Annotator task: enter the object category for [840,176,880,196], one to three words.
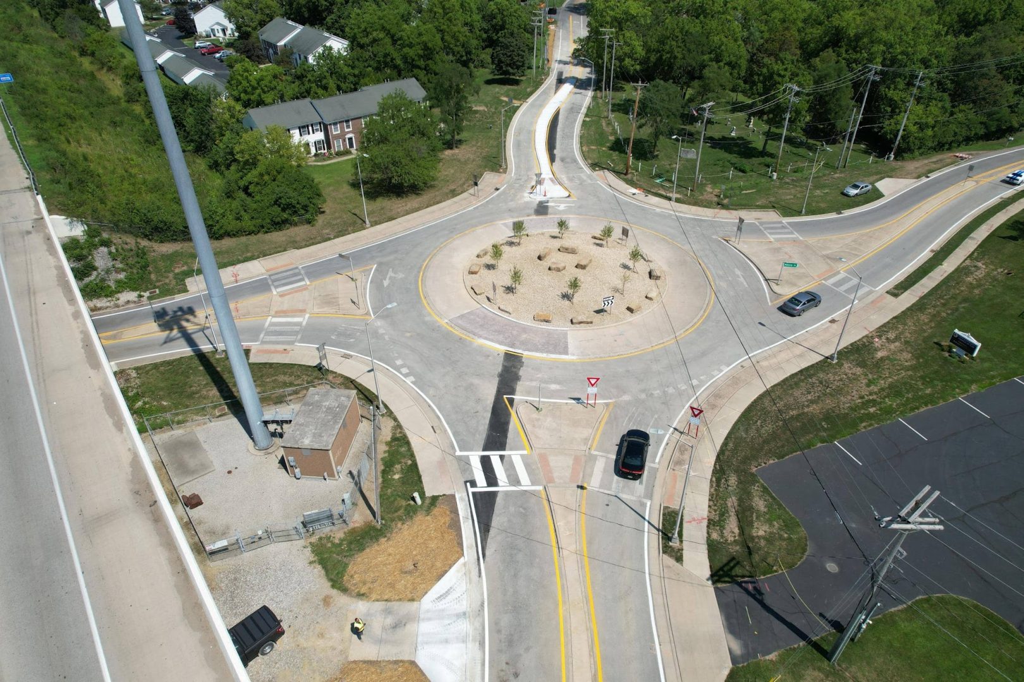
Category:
car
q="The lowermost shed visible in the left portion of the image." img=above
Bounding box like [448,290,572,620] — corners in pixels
[278,392,356,480]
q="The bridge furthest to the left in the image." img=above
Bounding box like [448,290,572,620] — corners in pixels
[0,195,252,682]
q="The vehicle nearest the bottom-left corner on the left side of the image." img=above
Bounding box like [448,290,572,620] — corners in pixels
[229,603,290,670]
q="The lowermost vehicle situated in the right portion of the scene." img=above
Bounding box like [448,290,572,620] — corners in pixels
[615,424,653,483]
